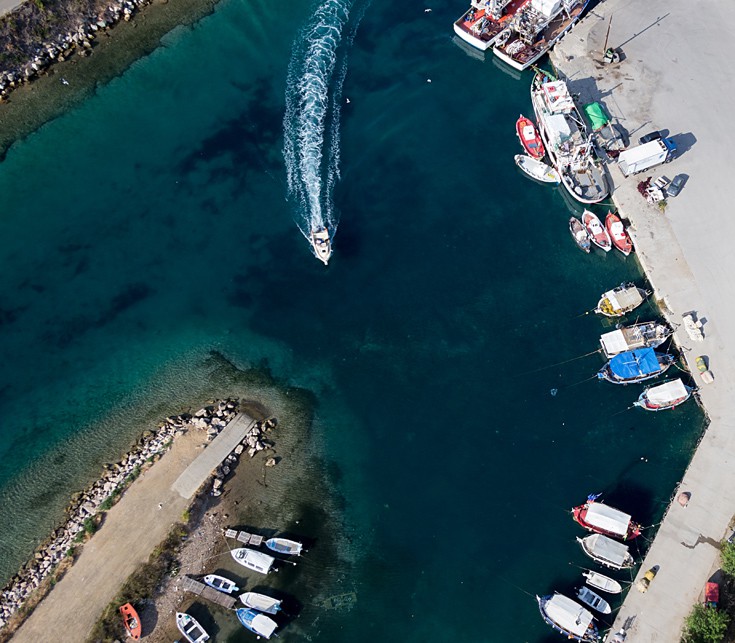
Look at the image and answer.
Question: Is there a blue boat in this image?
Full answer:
Yes, a blue boat can be made out from above.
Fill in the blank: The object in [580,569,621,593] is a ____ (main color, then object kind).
white boat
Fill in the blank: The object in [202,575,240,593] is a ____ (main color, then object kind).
white boat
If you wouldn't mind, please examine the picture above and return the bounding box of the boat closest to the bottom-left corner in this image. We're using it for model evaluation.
[121,602,138,638]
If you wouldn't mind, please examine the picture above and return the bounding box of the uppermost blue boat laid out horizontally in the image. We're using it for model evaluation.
[598,346,675,385]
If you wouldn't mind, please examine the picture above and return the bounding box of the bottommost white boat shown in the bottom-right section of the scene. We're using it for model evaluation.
[535,589,605,637]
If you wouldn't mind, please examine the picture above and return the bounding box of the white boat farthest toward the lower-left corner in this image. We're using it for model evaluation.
[176,611,209,643]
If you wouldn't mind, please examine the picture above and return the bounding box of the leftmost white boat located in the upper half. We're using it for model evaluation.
[306,228,328,266]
